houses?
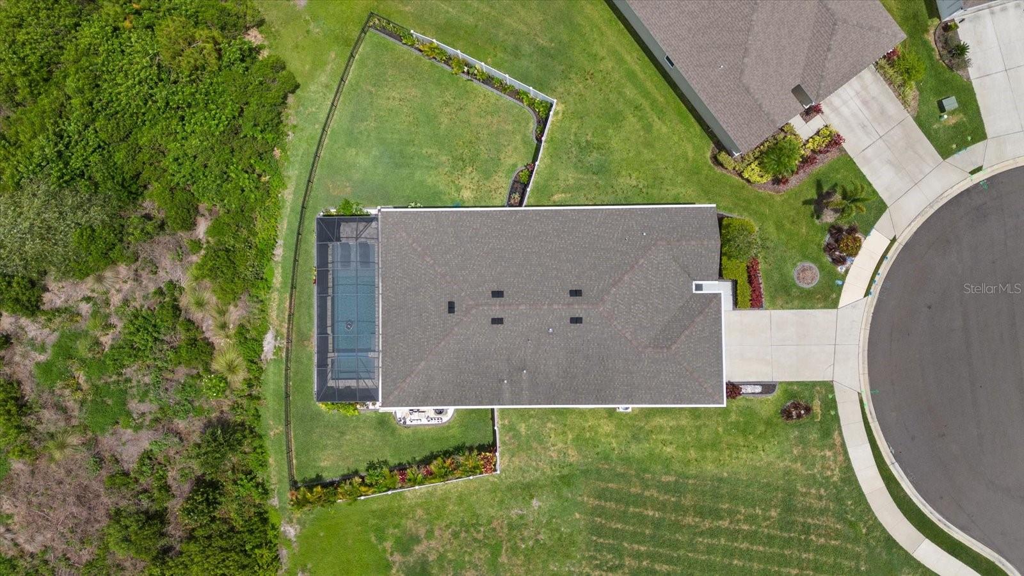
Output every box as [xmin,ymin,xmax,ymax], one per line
[378,204,726,410]
[934,0,1024,23]
[614,0,907,158]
